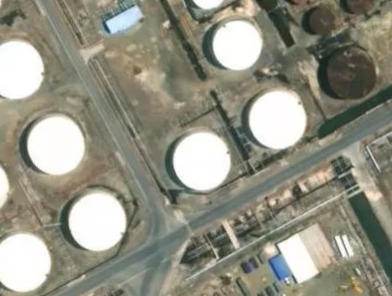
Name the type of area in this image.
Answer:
industrial area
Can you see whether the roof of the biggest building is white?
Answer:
Yes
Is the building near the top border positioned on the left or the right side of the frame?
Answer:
left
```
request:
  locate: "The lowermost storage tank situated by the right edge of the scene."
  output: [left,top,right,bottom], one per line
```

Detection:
[325,47,379,102]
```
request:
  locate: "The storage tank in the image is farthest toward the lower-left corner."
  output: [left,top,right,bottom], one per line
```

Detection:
[0,232,52,294]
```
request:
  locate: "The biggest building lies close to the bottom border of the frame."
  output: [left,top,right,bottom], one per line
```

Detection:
[276,222,337,283]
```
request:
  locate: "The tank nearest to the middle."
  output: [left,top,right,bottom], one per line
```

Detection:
[172,131,233,193]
